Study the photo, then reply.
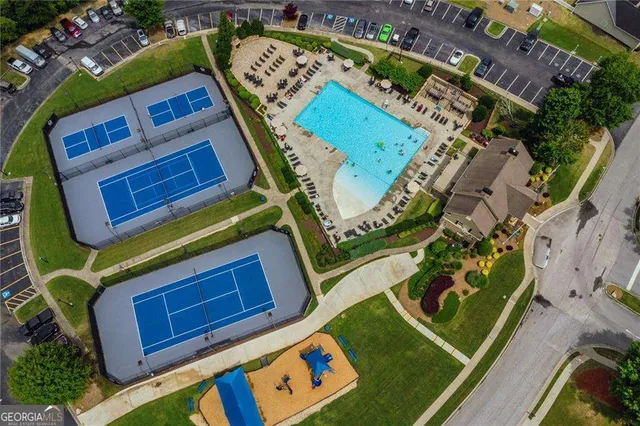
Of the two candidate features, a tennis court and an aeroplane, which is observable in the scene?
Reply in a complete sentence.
The one in the frame is a tennis court.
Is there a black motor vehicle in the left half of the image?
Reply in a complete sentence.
Yes, the scene does show a black motor vehicle in the left half of the image.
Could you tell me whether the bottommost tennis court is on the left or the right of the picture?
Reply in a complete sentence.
The bottommost tennis court appears in the left half of the scene.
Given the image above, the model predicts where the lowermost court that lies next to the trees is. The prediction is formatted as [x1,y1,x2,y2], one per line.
[95,230,309,381]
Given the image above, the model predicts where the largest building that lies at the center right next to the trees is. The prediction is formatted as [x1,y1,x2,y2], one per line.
[442,139,539,239]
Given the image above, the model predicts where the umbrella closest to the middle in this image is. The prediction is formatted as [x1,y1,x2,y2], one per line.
[294,164,309,178]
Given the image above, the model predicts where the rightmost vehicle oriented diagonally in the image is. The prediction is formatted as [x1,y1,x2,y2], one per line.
[521,30,539,50]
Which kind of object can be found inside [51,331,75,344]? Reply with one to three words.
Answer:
vehicle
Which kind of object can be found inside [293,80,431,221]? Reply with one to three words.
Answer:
swimming pool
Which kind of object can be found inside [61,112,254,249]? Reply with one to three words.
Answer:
tennis court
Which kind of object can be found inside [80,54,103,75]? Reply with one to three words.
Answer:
vehicle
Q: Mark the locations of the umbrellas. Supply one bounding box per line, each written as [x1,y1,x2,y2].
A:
[342,59,355,71]
[379,79,393,92]
[295,56,309,69]
[274,126,288,138]
[294,164,309,178]
[406,181,421,194]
